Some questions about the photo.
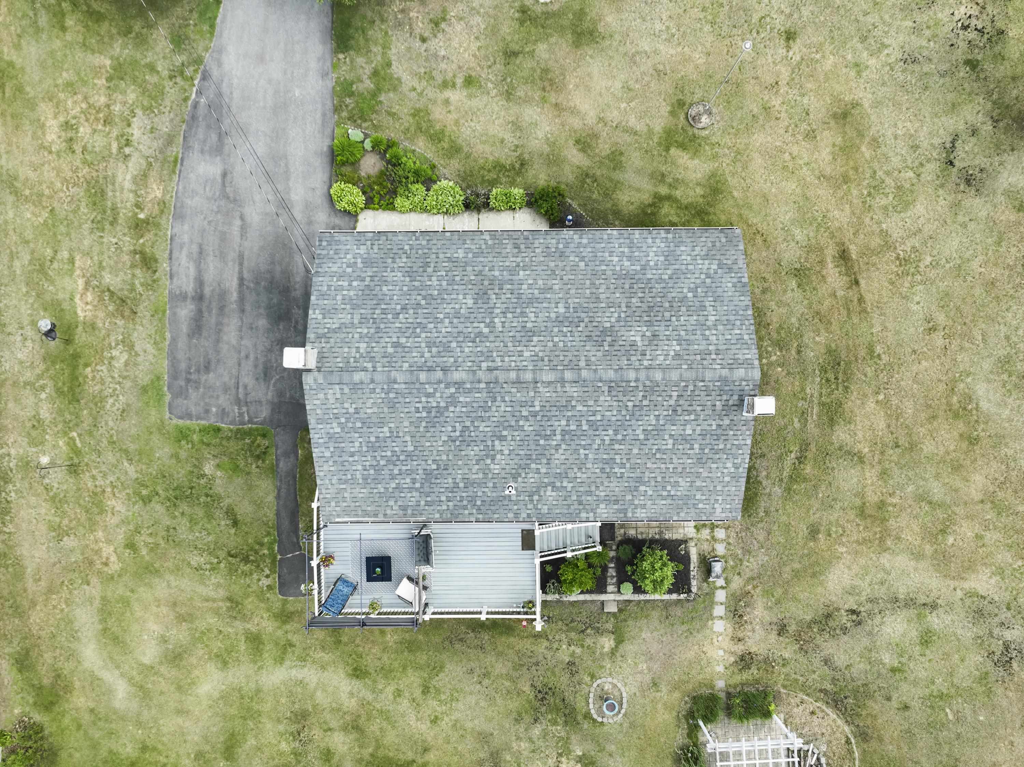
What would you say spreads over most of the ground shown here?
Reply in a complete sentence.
The scene is dominated by grass.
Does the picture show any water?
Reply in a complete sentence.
No, there's no water in this view.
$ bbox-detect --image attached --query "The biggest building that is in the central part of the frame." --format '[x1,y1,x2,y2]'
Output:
[283,227,775,524]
